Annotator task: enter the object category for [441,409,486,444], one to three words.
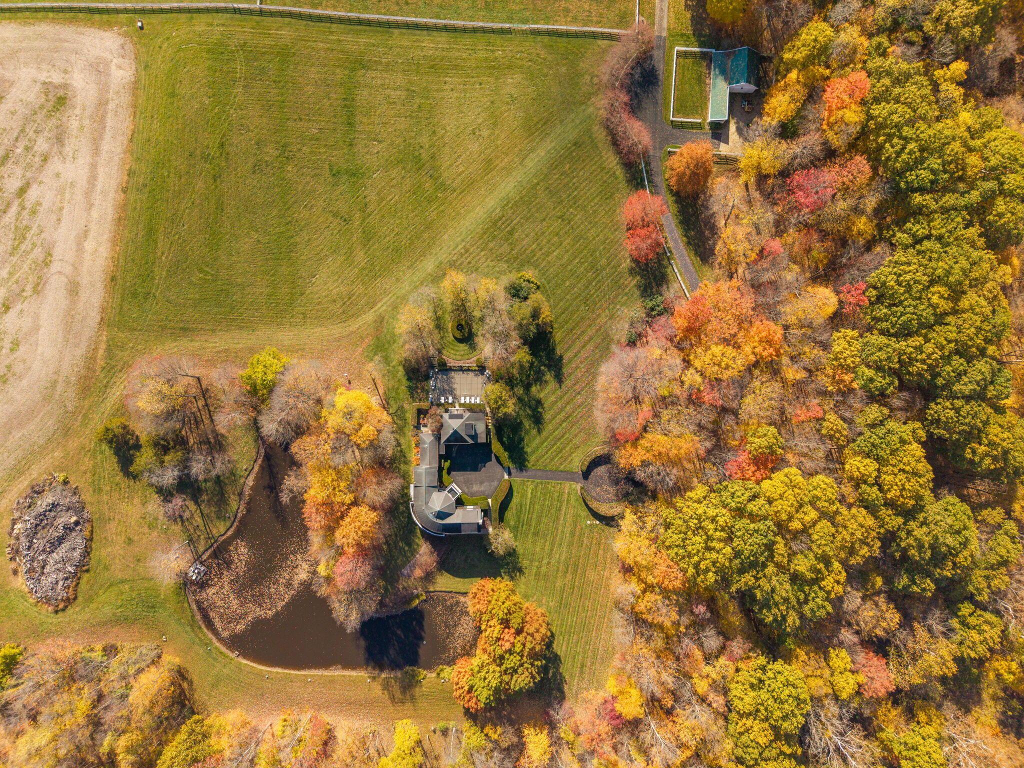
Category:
house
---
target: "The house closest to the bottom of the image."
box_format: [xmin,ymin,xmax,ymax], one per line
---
[410,433,488,536]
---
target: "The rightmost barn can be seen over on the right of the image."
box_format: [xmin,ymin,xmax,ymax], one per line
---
[708,46,760,123]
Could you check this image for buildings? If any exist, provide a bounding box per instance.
[410,433,488,536]
[708,46,760,123]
